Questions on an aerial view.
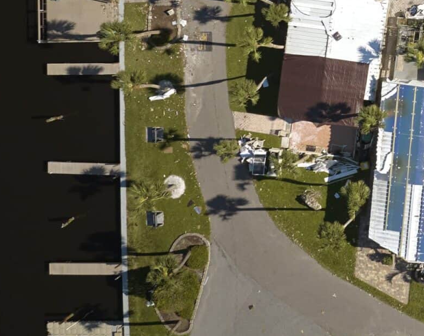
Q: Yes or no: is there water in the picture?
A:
Yes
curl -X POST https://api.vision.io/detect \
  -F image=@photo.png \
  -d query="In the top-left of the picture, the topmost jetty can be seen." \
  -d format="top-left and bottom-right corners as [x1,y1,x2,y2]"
[47,64,118,77]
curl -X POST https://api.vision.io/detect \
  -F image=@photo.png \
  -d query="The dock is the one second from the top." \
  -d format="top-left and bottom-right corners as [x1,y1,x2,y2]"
[48,161,120,178]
